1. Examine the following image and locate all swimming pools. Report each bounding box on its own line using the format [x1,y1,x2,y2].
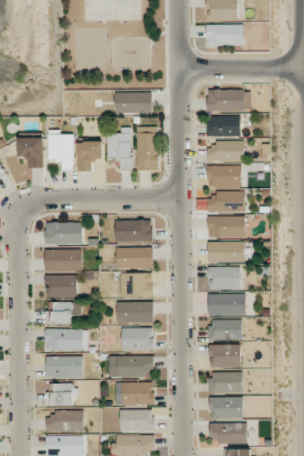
[252,219,266,236]
[24,120,40,132]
